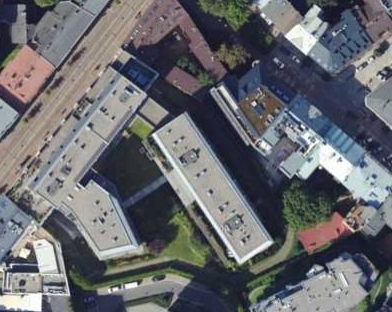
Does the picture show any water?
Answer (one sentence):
No, there is no water in the image.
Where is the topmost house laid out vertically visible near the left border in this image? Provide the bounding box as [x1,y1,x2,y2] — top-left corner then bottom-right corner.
[12,6,27,45]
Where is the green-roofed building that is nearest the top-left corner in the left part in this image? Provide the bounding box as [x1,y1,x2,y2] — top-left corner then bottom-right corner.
[127,118,154,140]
